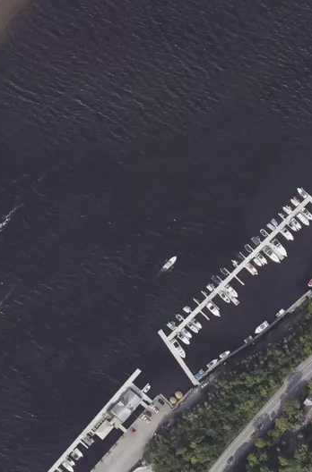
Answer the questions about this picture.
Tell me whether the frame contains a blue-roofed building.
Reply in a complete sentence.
No, no blue-roofed building is visible in the view.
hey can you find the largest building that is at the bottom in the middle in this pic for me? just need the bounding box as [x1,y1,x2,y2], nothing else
[108,387,144,424]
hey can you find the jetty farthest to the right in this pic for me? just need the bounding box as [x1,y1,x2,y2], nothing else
[158,193,312,385]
